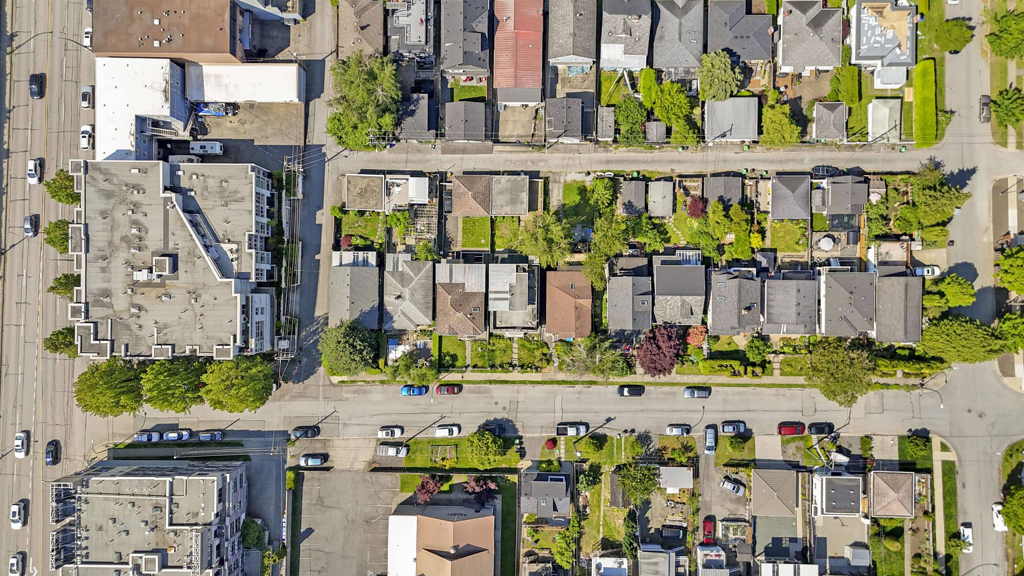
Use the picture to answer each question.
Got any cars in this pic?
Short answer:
Yes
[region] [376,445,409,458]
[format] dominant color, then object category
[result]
white vehicle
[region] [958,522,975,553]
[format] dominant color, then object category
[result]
white car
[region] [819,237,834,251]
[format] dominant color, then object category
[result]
white umbrella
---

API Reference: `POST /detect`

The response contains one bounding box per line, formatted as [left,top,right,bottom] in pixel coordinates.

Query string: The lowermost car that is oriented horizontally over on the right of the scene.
[659,525,688,539]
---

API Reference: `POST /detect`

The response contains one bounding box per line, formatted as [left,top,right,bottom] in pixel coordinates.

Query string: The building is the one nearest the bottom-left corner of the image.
[50,457,250,576]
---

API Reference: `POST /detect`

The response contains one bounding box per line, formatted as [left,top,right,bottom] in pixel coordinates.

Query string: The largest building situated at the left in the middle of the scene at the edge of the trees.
[68,159,280,360]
